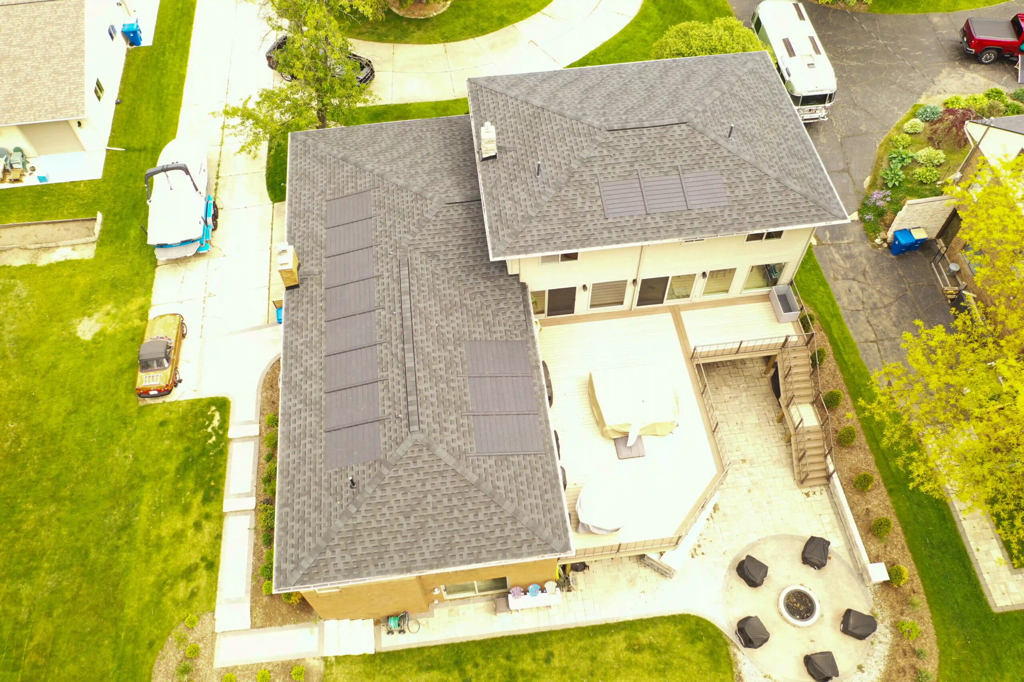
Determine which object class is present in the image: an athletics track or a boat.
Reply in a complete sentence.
This aerial view contains a boat.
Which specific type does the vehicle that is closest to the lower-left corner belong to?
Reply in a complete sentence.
Looking closely, the vehicle that is closest to the lower-left corner is a car.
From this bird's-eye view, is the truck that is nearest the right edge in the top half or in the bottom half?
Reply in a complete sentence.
You can find the truck that is nearest the right edge in the top half.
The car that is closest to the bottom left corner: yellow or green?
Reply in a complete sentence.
The car that is closest to the bottom left corner looks yellow in the image.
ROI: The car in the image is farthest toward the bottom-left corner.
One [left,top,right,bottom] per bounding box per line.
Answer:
[135,311,194,396]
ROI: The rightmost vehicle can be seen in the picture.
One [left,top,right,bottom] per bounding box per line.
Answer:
[961,17,1024,69]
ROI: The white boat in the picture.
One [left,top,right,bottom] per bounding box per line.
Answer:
[143,137,209,261]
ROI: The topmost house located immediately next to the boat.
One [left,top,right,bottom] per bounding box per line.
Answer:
[0,0,141,158]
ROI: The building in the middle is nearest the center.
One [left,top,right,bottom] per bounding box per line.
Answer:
[264,49,852,617]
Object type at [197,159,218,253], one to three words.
trailer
